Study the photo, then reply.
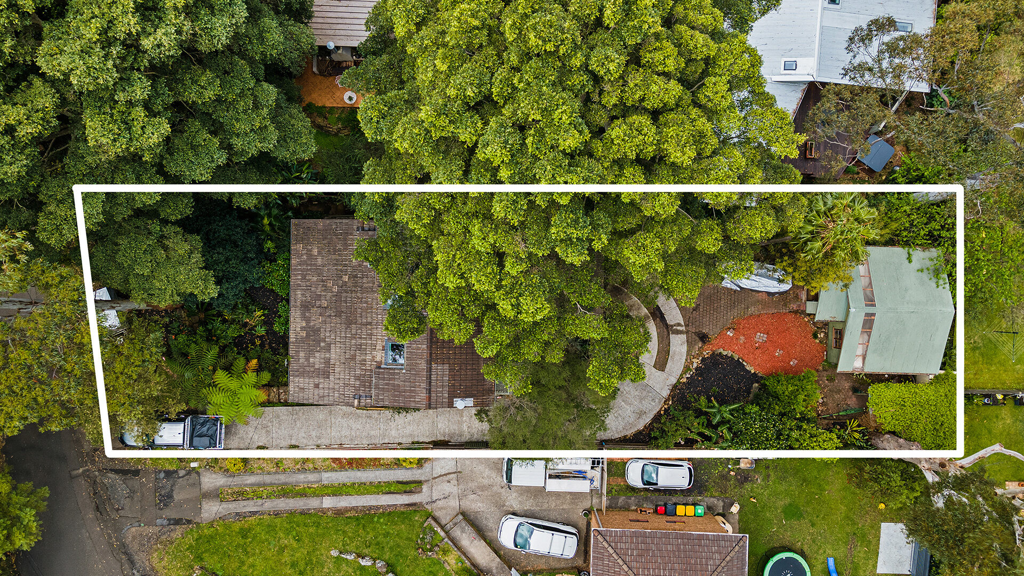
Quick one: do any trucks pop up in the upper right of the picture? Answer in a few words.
No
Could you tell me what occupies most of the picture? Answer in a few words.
trees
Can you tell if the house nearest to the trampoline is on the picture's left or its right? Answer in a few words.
right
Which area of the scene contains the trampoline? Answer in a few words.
bottom right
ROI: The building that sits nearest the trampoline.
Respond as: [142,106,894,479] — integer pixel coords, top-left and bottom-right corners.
[589,509,750,576]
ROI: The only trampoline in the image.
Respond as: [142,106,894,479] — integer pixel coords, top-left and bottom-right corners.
[758,546,811,576]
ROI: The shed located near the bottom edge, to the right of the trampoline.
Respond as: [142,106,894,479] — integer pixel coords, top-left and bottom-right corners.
[876,522,925,576]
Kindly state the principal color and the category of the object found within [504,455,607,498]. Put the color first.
white truck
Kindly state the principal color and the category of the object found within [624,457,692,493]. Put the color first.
white car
